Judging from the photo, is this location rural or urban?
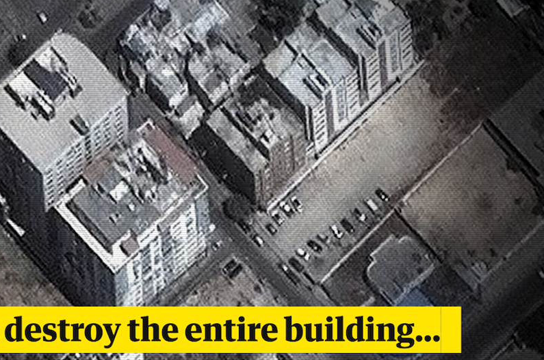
urban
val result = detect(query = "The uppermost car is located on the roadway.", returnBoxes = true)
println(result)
[35,11,50,25]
